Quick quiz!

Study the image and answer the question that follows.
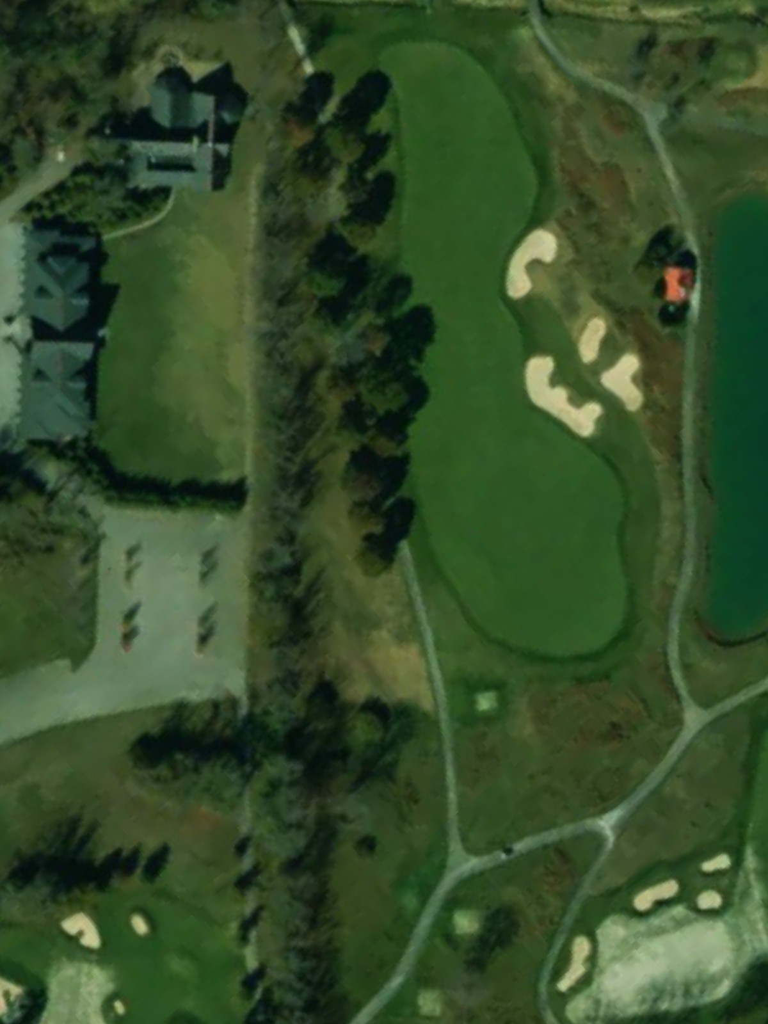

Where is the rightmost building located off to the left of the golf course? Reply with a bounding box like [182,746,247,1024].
[100,82,239,189]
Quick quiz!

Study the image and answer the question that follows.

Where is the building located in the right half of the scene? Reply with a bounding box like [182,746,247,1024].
[665,266,693,301]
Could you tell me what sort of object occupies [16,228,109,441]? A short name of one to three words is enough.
house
